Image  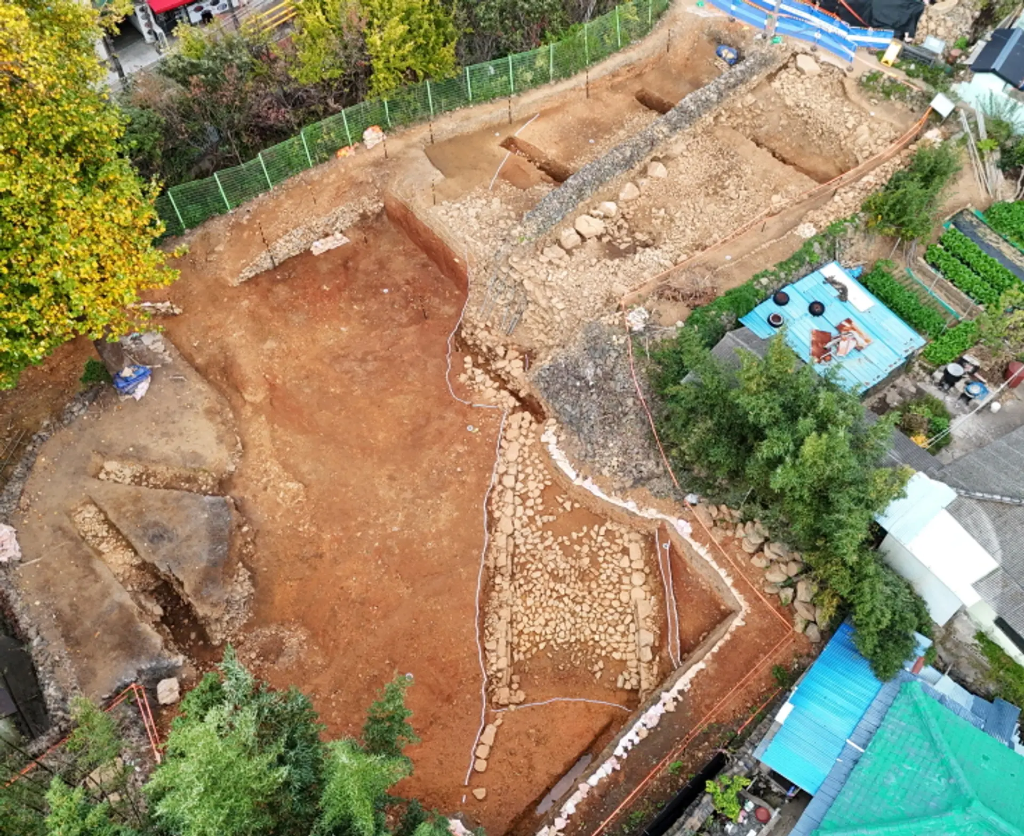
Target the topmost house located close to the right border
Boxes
[969,22,1024,110]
